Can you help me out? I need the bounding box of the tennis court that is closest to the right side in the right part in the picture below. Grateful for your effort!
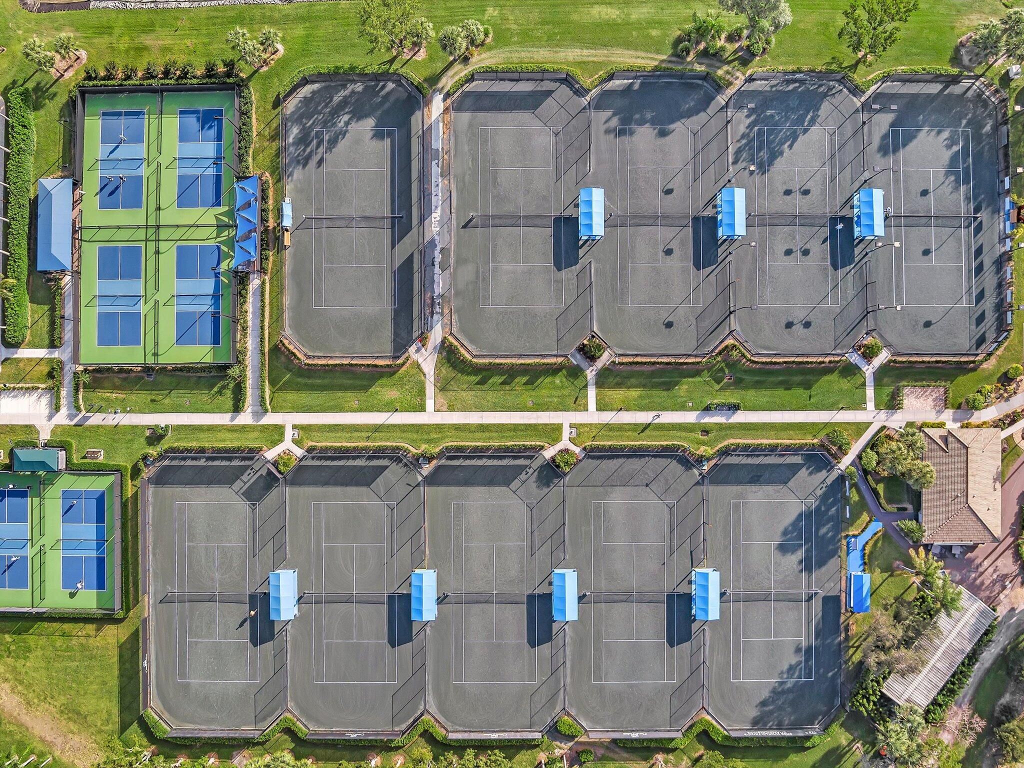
[863,81,1001,353]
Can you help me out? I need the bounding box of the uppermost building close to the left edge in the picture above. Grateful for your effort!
[37,179,83,272]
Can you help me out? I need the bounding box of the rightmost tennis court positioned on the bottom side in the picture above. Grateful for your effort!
[703,452,841,729]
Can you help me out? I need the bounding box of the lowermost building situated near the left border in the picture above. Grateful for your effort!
[14,448,68,471]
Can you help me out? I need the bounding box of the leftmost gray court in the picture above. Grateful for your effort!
[149,453,287,729]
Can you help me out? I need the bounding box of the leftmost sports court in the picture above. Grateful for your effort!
[0,471,44,607]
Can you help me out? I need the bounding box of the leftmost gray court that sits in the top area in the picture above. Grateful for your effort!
[285,82,423,355]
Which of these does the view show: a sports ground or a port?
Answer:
sports ground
